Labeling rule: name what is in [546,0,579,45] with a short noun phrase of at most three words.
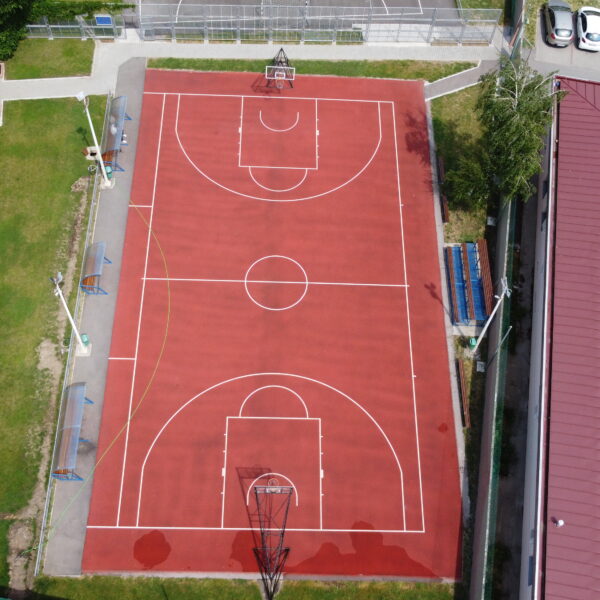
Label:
car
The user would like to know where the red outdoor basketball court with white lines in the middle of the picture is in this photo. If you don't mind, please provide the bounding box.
[81,67,473,584]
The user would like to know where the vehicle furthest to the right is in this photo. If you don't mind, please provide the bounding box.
[578,5,600,50]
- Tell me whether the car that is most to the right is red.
No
